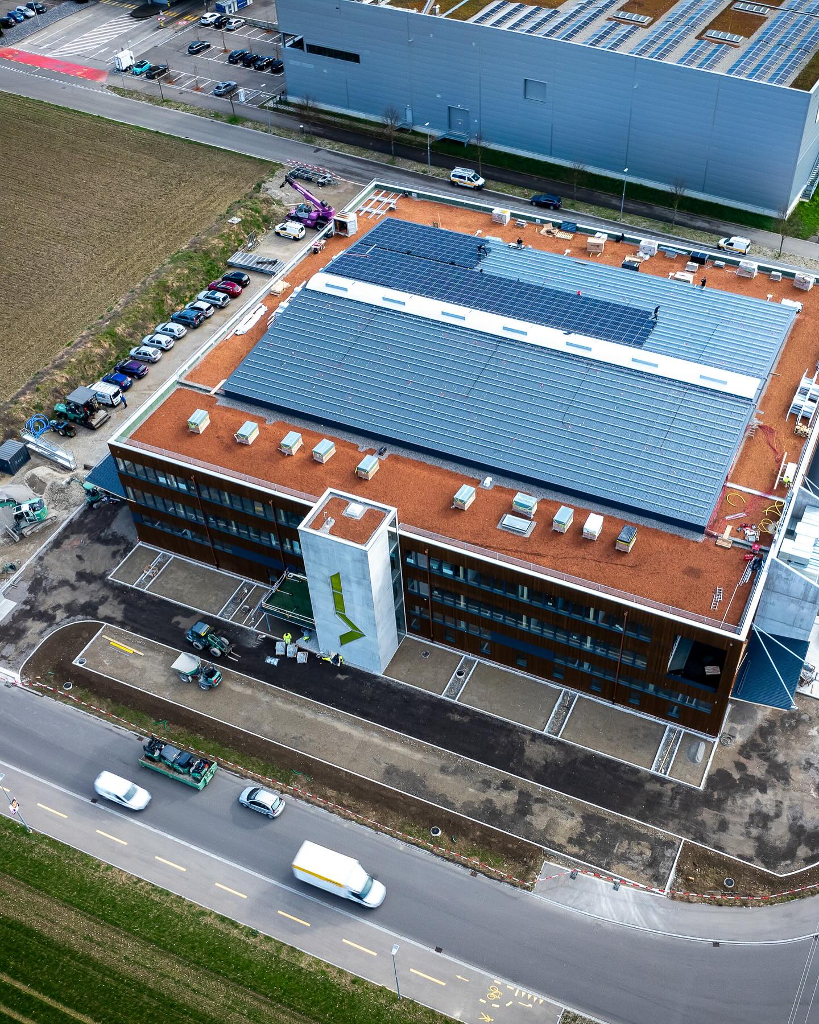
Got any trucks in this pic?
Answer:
Yes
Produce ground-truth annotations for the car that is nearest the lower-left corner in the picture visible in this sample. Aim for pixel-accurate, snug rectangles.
[94,767,153,811]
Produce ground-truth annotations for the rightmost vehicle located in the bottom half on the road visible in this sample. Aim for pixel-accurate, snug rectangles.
[291,829,388,903]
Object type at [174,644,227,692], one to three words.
truck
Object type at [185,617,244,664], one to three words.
work vehicle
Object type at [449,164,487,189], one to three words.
vehicle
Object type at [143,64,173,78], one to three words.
car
